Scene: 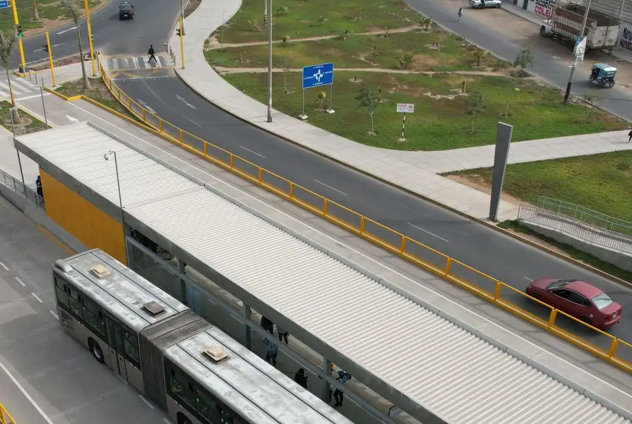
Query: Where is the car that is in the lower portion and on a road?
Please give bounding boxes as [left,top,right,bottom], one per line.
[524,275,627,328]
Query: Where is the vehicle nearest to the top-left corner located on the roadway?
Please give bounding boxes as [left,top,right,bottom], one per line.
[113,1,134,20]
